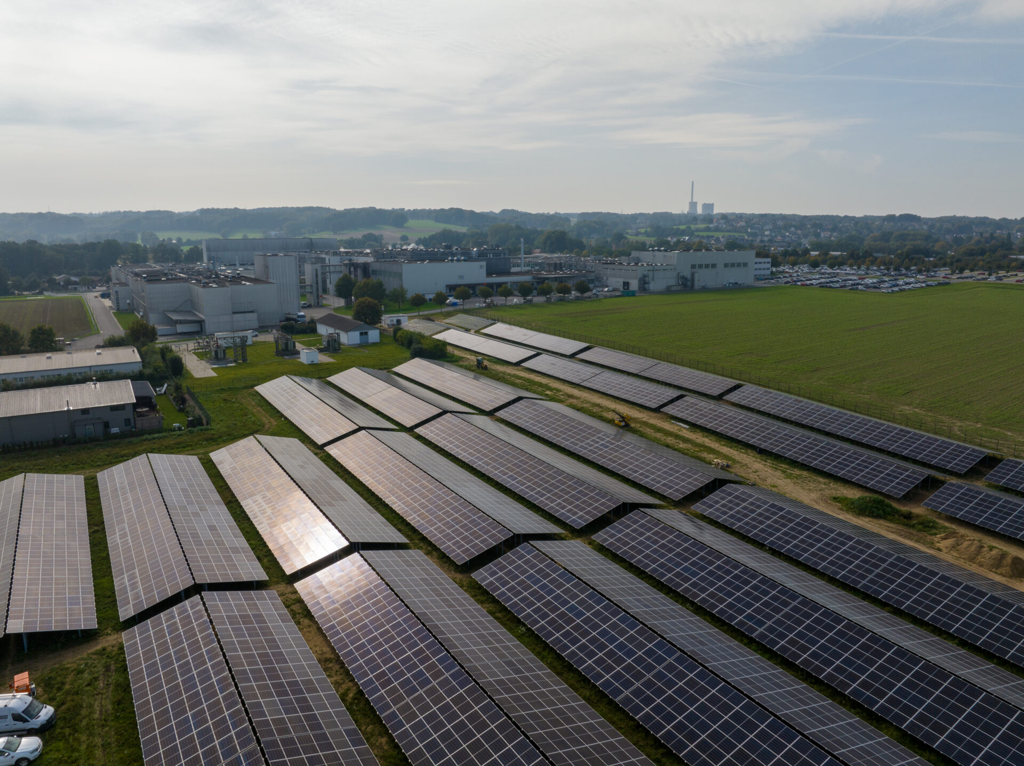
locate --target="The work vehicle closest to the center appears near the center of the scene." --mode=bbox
[472,357,489,372]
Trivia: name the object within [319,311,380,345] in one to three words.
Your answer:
house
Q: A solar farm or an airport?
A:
solar farm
